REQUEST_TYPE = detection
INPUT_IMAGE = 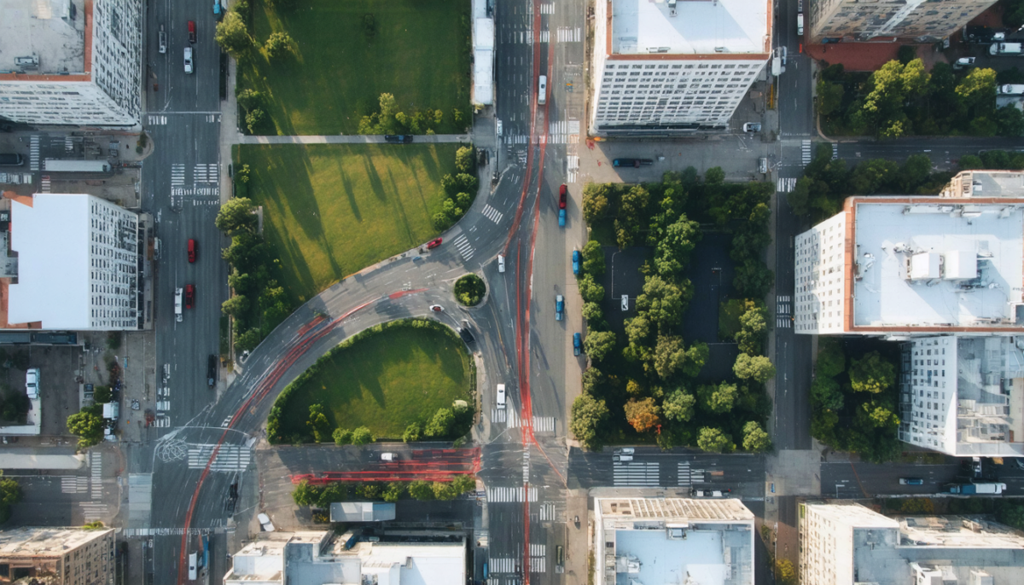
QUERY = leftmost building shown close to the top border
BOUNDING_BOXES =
[0,0,141,129]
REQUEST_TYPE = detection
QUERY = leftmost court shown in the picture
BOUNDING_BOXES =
[604,245,653,322]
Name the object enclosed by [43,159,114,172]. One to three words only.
vehicle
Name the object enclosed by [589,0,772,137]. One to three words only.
building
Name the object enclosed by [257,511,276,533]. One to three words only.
car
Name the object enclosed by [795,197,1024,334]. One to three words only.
building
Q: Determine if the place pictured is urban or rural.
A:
urban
